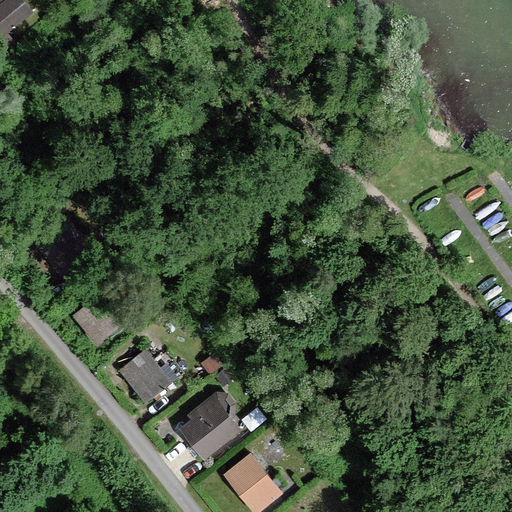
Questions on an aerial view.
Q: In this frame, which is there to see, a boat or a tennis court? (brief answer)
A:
boat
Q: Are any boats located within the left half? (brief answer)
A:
No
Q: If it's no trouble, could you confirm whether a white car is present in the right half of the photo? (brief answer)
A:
No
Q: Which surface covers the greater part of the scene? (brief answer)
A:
trees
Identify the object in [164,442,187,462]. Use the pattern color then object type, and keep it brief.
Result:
white car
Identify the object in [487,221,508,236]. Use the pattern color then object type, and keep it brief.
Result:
white boat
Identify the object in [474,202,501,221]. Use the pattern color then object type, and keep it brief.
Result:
white boat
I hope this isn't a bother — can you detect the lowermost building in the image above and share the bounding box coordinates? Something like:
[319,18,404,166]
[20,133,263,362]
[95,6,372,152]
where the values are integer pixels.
[222,453,282,512]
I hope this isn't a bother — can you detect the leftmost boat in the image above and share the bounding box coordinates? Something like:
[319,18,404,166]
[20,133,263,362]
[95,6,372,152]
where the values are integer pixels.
[418,198,440,213]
